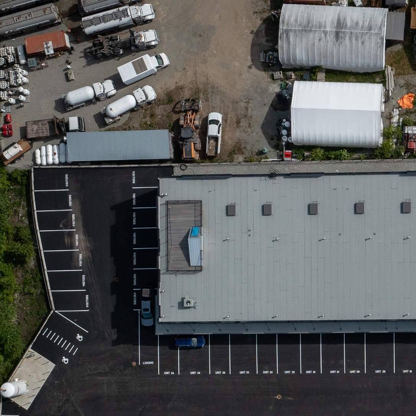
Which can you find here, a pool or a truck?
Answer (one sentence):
There is a truck in the scene.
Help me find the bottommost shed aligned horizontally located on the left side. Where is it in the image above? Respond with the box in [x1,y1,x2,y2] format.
[67,130,176,165]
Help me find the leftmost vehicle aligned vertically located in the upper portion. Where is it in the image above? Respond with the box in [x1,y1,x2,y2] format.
[180,100,203,161]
